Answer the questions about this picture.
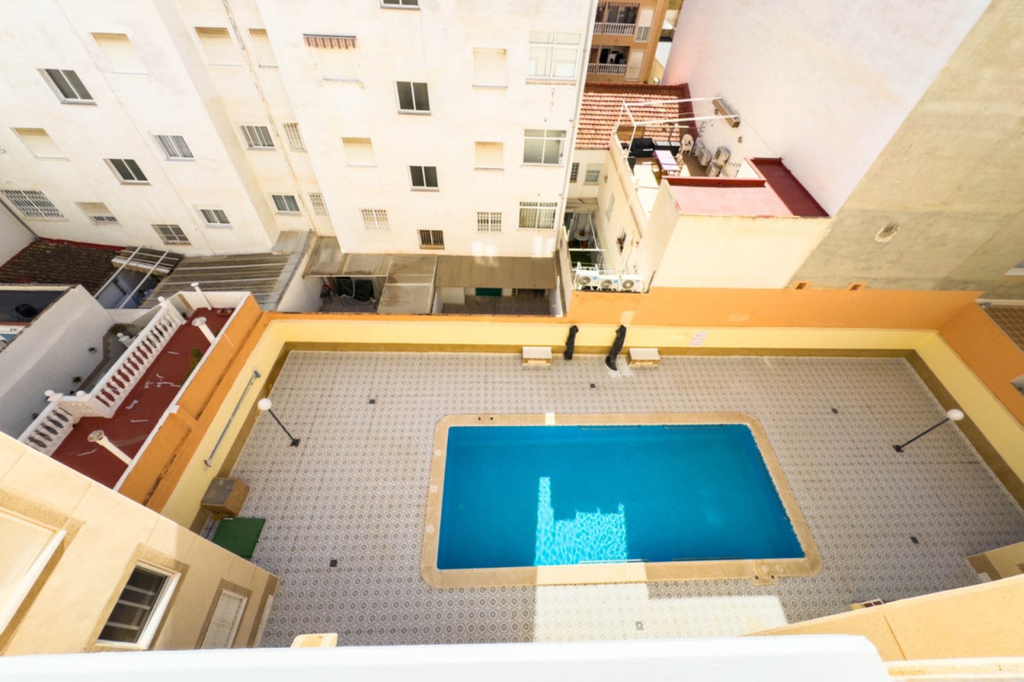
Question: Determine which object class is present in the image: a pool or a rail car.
pool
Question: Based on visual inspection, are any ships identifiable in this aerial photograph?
No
